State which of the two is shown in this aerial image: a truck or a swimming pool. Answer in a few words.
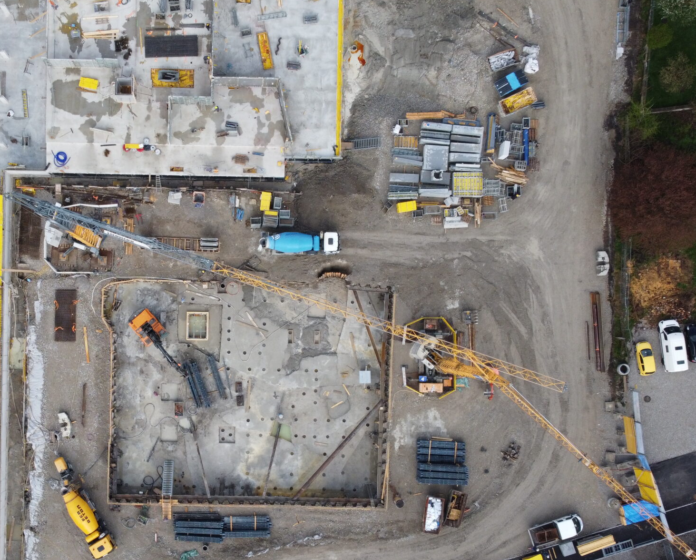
truck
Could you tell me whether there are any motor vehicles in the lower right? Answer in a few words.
Yes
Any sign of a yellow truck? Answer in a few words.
Yes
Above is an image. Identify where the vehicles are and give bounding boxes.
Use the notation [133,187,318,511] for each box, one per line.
[634,342,656,377]
[255,229,341,256]
[126,306,195,382]
[656,321,689,373]
[682,323,696,362]
[58,484,120,560]
[527,517,585,549]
